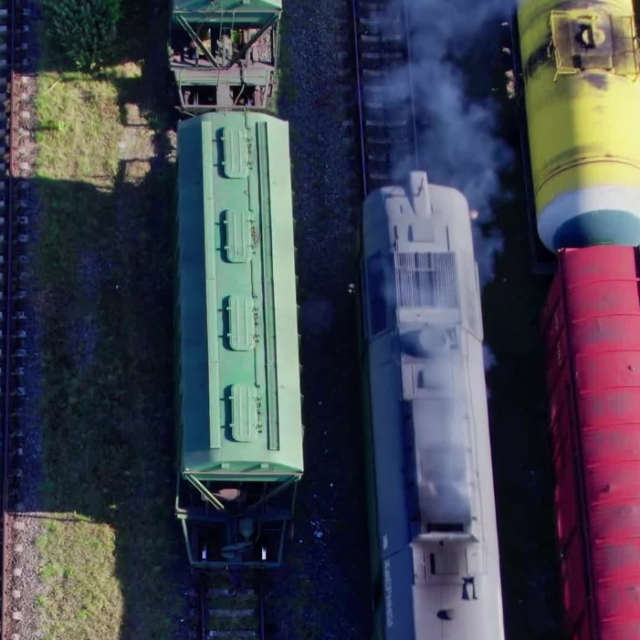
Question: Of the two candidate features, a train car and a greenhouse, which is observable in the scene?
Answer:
train car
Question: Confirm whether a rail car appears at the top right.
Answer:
Yes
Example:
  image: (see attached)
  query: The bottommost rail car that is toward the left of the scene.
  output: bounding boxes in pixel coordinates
[168,113,306,582]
